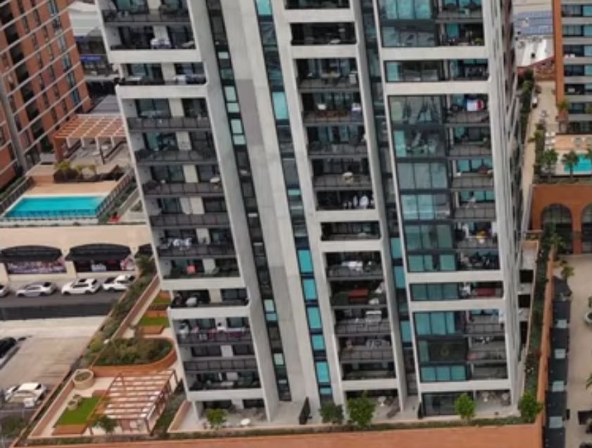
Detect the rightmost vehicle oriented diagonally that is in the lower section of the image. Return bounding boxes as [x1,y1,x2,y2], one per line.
[103,275,131,294]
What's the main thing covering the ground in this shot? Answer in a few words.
buildings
